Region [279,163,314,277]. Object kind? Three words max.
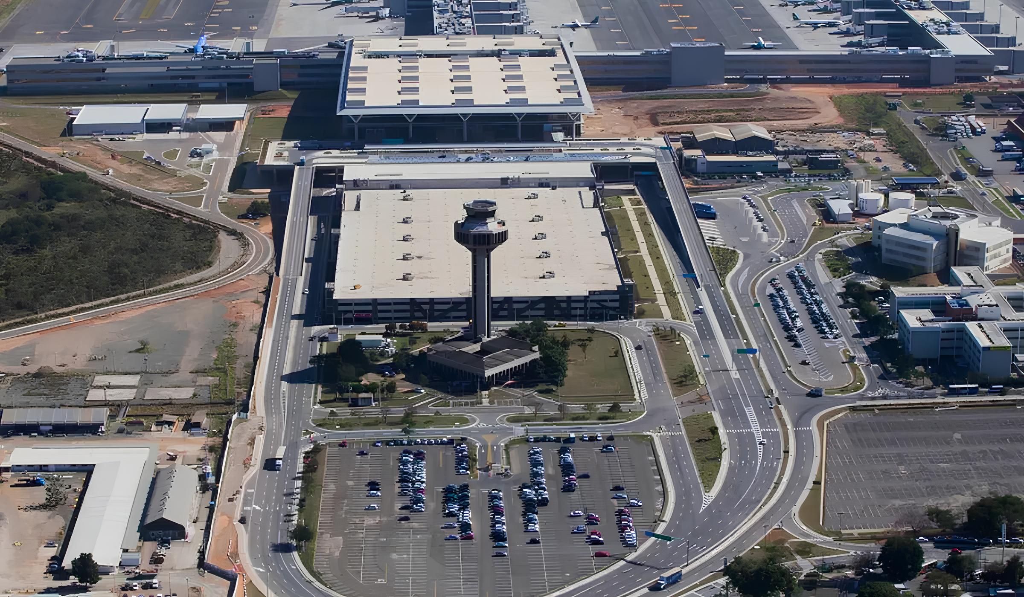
bridge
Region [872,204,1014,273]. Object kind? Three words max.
building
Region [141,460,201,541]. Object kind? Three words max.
hangar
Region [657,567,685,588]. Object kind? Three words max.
truck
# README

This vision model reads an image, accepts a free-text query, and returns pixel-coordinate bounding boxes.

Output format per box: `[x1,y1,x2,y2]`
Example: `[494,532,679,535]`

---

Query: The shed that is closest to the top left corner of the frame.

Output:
[73,105,150,135]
